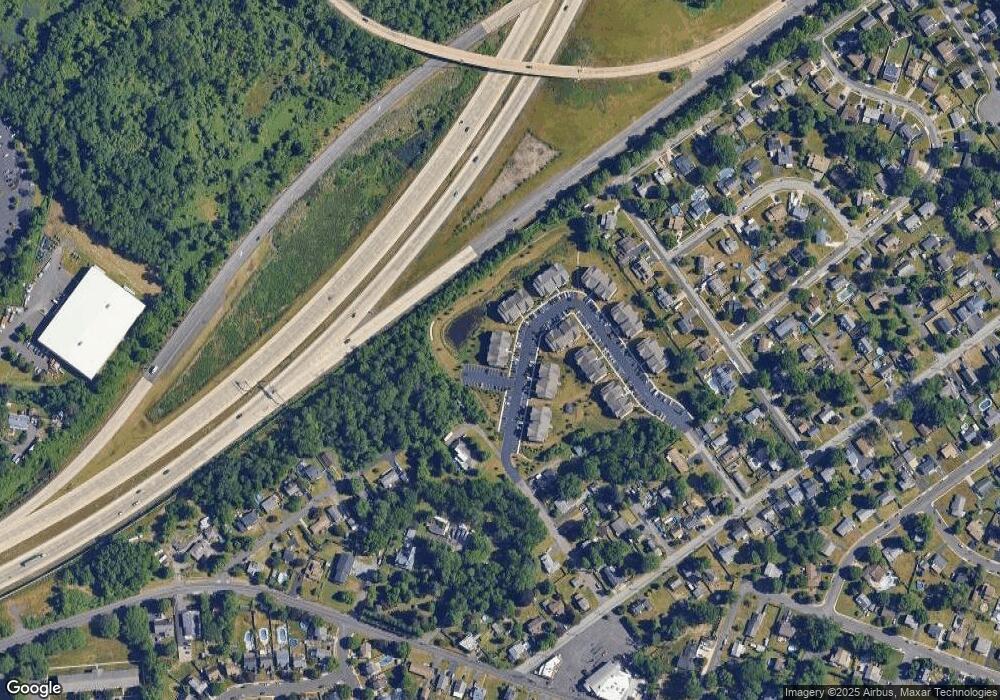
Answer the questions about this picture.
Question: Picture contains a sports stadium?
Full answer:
No, I can see no sports stadium in this picture.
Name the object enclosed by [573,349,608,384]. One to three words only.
building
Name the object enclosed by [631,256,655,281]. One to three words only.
house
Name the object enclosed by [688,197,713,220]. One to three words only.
house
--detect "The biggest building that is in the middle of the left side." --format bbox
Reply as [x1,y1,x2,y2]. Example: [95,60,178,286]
[37,266,146,380]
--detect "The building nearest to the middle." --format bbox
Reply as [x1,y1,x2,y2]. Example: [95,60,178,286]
[487,332,513,366]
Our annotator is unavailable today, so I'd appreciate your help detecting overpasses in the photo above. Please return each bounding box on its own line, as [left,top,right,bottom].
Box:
[329,0,794,78]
